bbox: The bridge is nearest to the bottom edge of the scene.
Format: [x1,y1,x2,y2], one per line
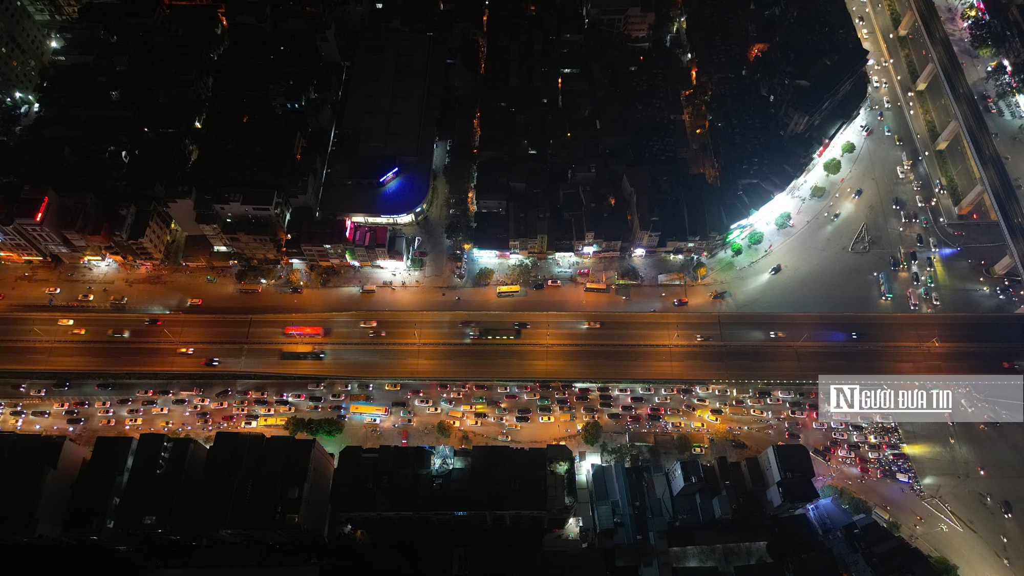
[0,310,1024,382]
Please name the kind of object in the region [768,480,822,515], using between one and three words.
house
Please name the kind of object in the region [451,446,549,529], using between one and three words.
building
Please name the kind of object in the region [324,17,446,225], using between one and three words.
building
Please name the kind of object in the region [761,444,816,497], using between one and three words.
house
